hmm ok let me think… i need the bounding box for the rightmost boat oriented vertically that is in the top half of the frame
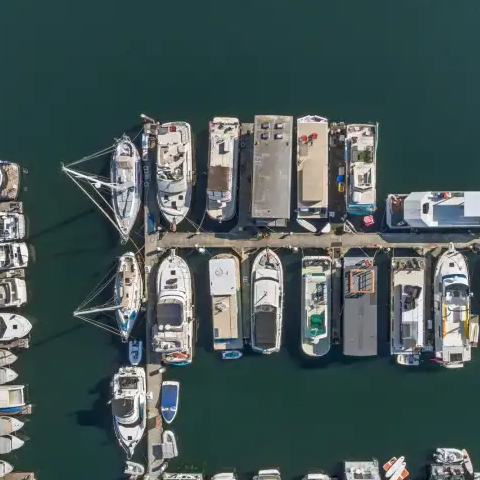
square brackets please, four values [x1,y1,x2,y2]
[345,122,380,233]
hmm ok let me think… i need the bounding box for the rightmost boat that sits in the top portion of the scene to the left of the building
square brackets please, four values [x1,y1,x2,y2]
[199,117,242,233]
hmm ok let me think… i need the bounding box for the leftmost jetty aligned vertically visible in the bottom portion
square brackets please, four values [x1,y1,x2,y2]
[145,232,163,480]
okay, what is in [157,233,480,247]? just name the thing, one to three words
pier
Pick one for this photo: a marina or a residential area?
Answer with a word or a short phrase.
marina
